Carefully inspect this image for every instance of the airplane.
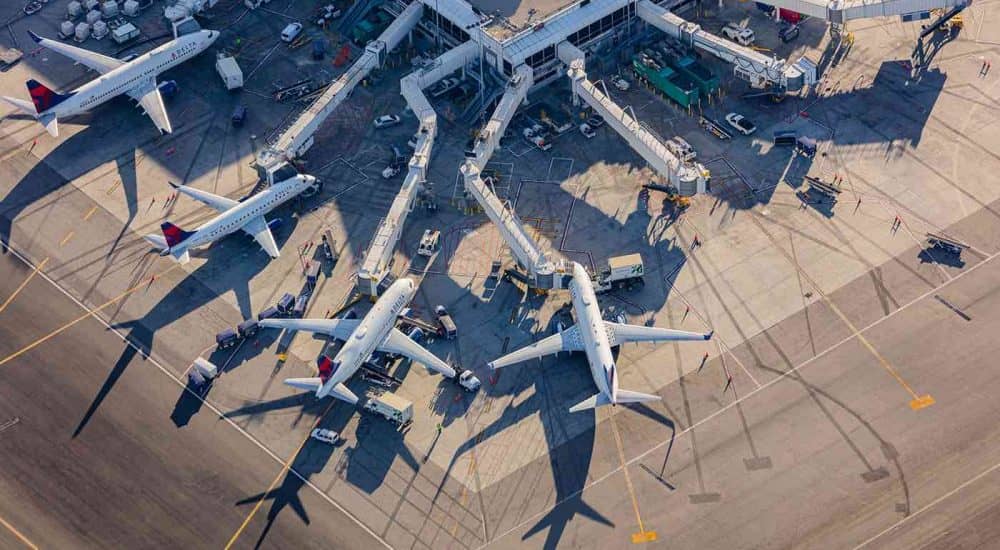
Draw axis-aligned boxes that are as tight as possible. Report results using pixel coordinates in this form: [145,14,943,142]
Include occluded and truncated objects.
[257,280,459,404]
[4,31,212,136]
[484,267,711,411]
[146,179,316,266]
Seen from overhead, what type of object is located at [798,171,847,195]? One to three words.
work vehicle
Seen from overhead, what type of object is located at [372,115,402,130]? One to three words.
car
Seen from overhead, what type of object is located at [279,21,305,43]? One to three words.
vehicle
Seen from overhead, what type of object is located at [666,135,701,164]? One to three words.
truck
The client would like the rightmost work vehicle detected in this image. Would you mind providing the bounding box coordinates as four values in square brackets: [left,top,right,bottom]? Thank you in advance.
[921,232,975,252]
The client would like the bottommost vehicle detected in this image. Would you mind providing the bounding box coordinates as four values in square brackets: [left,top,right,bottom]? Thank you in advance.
[309,427,342,444]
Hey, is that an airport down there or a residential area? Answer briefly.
airport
